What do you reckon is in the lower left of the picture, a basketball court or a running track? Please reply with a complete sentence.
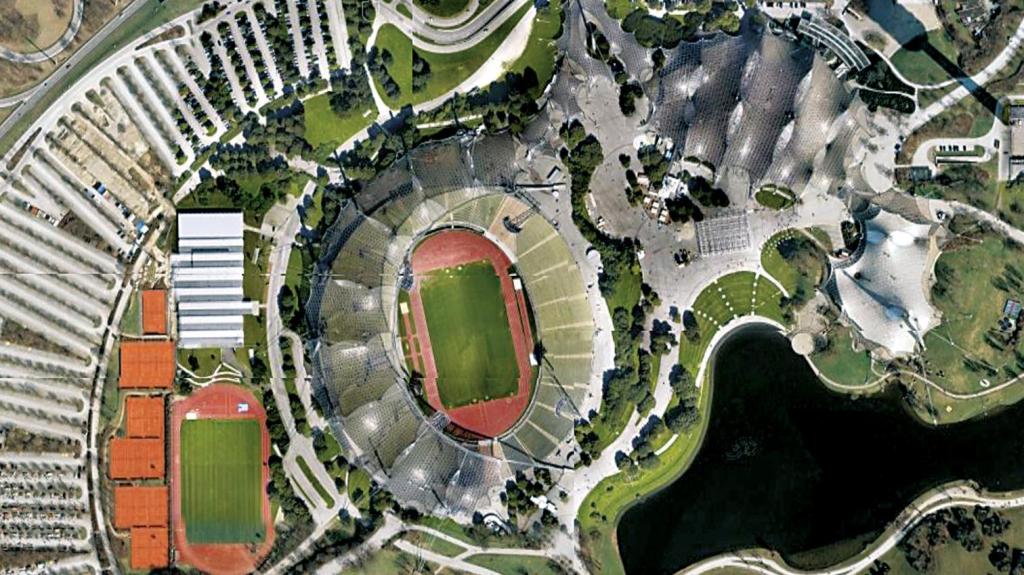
It is a running track that can be seen in the lower left of the picture.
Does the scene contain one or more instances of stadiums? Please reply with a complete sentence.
Yes, there's a stadium down there.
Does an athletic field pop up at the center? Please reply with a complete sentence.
Yes, an athletic field can be seen at the center.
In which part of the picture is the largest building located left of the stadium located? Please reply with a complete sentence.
The largest building located left of the stadium is in the left part of the image.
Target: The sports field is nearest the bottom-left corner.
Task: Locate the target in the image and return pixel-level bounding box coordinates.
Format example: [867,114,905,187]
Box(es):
[182,419,265,543]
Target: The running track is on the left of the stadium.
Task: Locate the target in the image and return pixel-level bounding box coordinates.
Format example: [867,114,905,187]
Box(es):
[172,383,273,575]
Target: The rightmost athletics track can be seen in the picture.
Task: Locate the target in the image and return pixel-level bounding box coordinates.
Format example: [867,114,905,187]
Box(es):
[403,230,534,436]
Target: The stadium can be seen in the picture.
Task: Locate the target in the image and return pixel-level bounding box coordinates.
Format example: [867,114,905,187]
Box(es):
[305,131,595,516]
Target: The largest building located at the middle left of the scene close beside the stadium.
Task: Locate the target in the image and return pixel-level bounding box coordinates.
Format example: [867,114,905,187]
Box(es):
[170,212,259,348]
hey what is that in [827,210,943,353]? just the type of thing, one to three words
building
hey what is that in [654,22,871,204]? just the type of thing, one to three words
building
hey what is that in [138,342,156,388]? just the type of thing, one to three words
tennis court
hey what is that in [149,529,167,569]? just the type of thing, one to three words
tennis court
